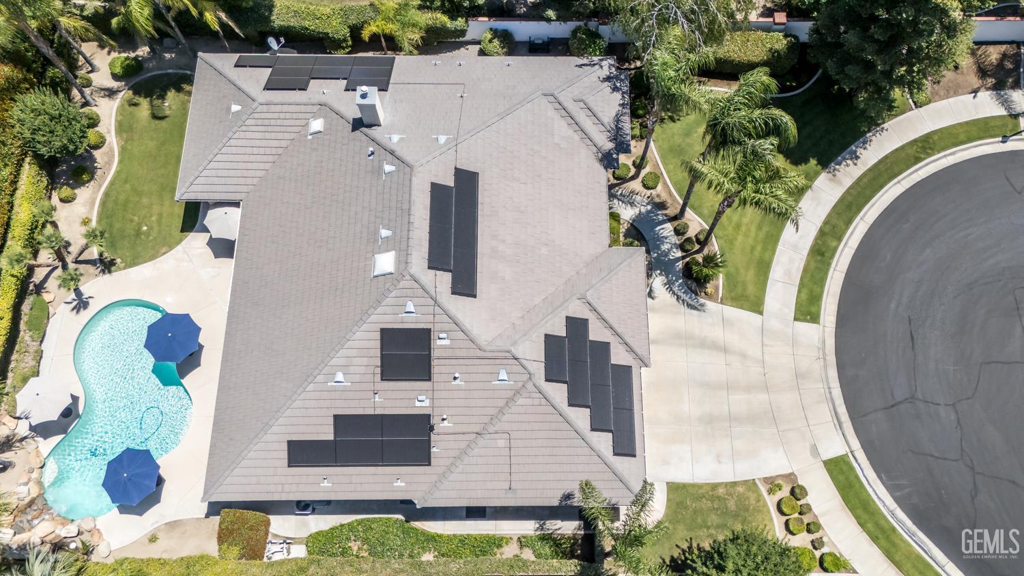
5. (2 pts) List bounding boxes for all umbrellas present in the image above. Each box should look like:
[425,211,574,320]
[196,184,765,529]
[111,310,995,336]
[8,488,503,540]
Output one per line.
[13,369,71,424]
[101,447,157,506]
[204,202,238,239]
[145,312,201,363]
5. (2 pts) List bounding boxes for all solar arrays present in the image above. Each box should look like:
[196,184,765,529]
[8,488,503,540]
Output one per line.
[428,168,479,297]
[380,328,431,381]
[234,55,395,92]
[287,414,431,467]
[544,316,636,457]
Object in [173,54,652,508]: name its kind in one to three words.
house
